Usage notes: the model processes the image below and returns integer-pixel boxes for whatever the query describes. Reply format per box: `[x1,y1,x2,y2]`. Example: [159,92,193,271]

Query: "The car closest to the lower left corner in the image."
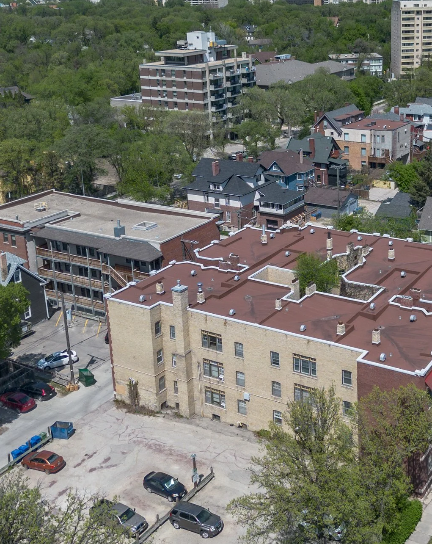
[18,448,65,475]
